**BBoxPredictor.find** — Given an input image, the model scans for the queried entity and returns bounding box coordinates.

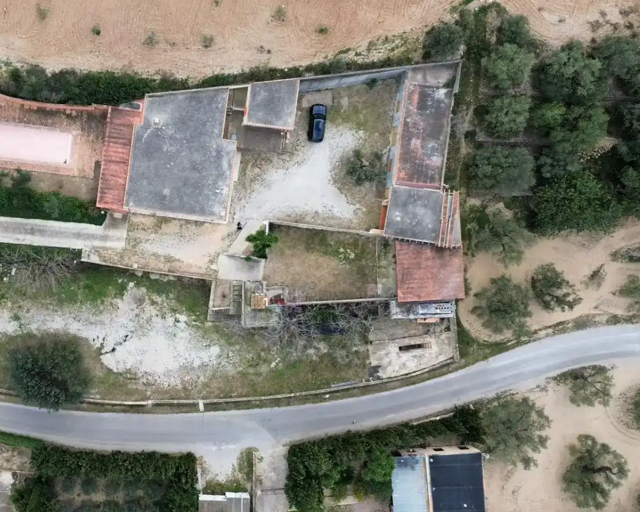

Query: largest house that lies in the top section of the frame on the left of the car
[124,88,240,225]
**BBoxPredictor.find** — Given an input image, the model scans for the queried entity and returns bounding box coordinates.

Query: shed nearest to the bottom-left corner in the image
[200,492,228,512]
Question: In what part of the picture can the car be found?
top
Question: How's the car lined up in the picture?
vertically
